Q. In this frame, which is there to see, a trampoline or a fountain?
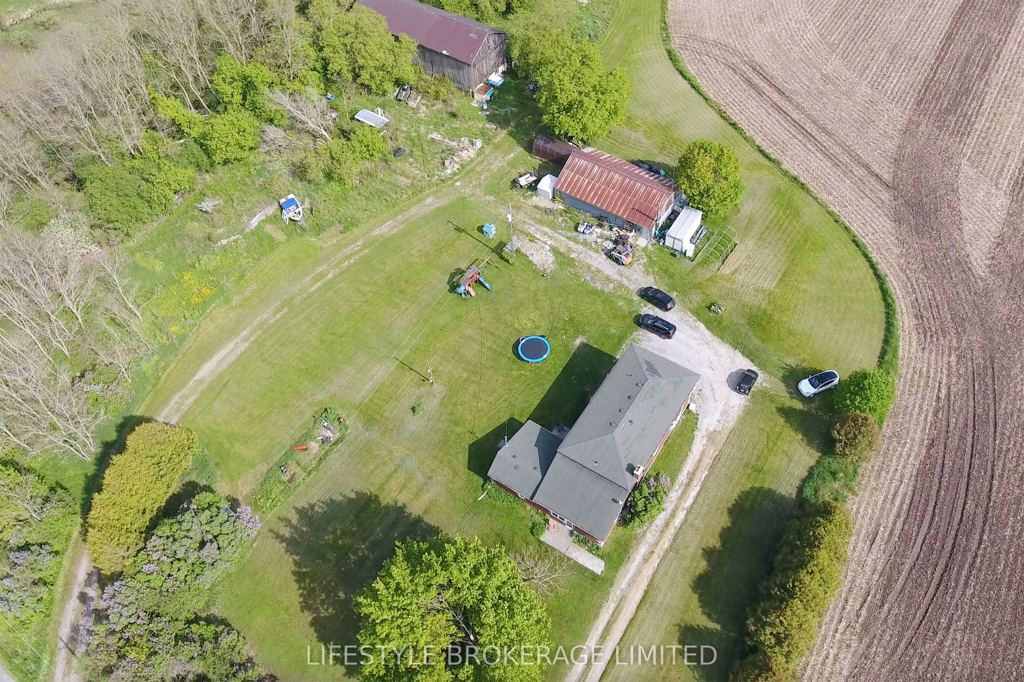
trampoline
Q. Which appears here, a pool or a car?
car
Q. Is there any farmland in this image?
Yes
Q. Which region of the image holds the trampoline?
center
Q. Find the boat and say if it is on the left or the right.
left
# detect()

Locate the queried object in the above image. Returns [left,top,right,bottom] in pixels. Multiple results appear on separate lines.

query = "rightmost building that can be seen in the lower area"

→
[487,341,701,550]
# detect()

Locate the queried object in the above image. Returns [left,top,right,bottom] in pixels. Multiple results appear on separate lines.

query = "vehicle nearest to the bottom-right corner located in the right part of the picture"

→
[798,368,841,396]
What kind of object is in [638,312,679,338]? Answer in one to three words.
car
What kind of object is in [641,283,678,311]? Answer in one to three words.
car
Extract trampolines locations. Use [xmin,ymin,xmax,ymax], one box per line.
[521,337,548,364]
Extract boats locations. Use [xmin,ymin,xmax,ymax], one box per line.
[278,191,300,216]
